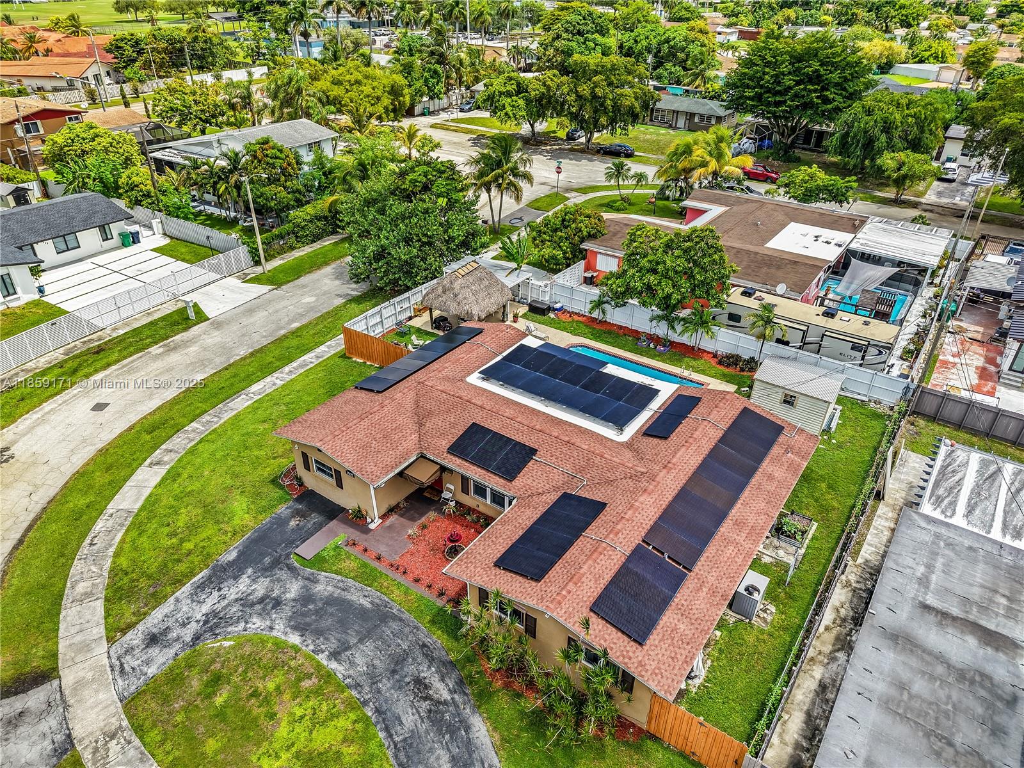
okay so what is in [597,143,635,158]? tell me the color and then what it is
black car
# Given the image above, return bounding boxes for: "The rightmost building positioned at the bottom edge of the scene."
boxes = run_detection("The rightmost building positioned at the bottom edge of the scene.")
[809,509,1024,768]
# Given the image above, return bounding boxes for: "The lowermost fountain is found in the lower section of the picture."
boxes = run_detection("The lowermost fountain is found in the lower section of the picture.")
[442,526,466,544]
